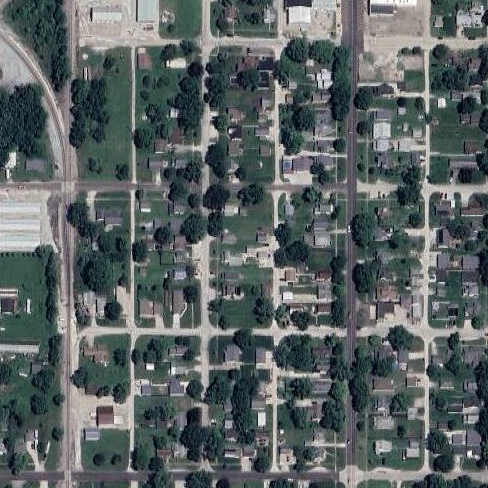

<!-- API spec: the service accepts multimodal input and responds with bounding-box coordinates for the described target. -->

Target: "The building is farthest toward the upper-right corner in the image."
[457,9,485,31]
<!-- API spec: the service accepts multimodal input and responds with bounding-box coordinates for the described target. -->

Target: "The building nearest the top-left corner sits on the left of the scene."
[91,7,122,24]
